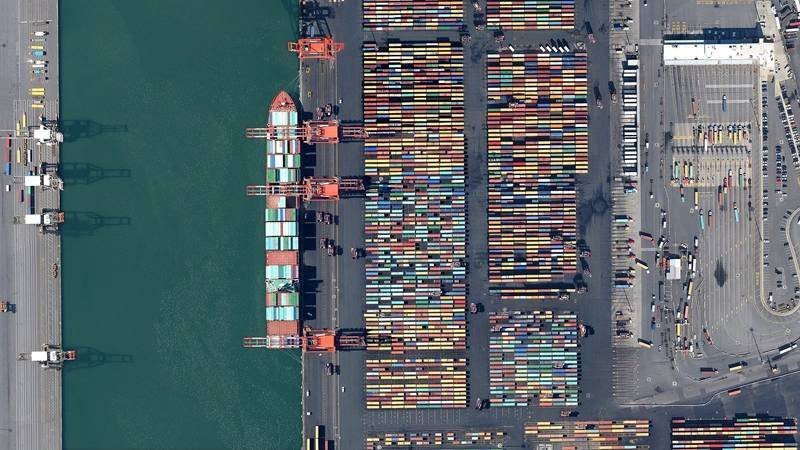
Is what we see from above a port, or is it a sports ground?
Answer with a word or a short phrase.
port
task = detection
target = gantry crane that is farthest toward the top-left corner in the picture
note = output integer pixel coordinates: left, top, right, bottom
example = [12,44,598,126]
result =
[18,118,63,149]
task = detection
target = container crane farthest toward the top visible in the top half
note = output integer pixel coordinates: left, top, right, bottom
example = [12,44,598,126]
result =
[289,34,344,61]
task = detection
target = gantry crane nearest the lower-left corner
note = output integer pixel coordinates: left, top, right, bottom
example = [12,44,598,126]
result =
[13,341,73,370]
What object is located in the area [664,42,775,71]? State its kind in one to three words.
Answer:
building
